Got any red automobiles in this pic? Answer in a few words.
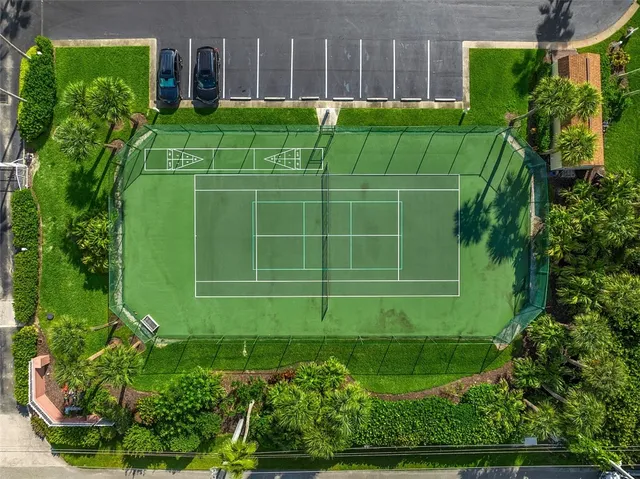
No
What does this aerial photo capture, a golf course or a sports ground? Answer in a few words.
sports ground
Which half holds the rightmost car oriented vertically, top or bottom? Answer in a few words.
top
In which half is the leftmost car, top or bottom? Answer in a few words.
top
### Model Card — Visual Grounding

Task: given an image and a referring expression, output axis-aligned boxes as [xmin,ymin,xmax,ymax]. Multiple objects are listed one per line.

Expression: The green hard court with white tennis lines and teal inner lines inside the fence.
[123,134,534,337]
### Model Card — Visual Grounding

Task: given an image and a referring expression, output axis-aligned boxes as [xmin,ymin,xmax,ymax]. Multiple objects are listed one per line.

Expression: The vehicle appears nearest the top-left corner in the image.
[156,51,183,104]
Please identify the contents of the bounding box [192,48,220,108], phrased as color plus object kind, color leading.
black car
